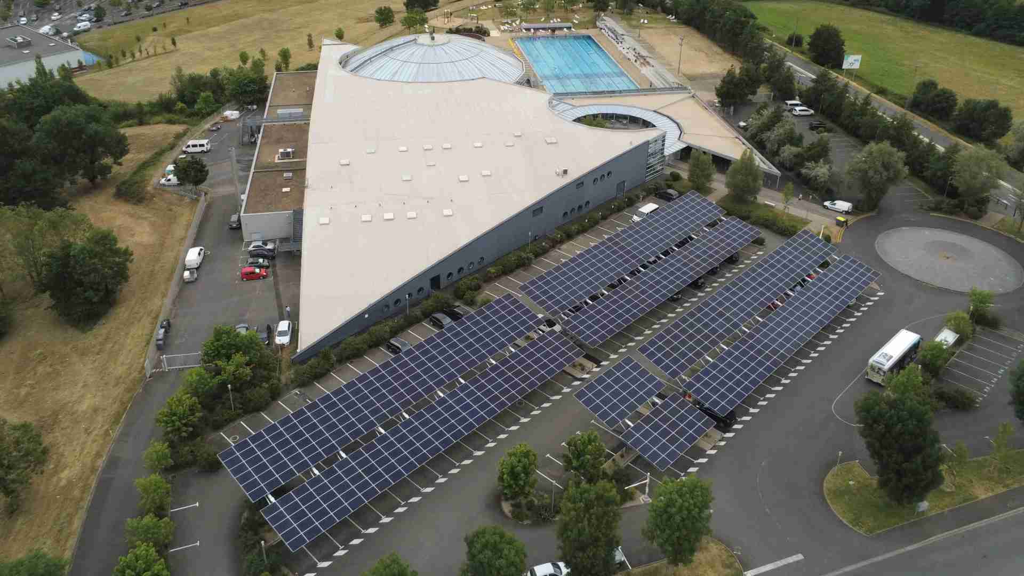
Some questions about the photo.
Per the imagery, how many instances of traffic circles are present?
1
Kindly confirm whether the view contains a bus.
Yes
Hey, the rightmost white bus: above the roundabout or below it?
below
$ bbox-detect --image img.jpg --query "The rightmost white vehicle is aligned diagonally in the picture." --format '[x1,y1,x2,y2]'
[863,328,920,386]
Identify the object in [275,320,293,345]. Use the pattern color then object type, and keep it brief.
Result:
white car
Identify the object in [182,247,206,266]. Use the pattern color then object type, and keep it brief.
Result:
white vehicle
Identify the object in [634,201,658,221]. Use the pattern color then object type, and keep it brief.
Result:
white vehicle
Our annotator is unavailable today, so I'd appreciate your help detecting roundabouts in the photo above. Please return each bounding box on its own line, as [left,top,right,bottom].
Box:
[879,226,1021,293]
